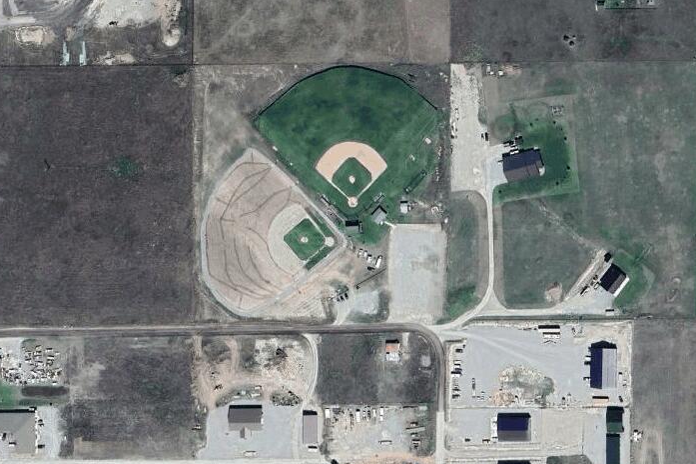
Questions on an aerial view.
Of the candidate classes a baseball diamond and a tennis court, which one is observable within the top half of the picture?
baseball diamond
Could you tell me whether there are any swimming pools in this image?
No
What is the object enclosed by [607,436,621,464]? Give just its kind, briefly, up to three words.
barn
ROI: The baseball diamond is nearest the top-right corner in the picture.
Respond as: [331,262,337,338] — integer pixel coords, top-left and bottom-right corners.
[257,65,443,233]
